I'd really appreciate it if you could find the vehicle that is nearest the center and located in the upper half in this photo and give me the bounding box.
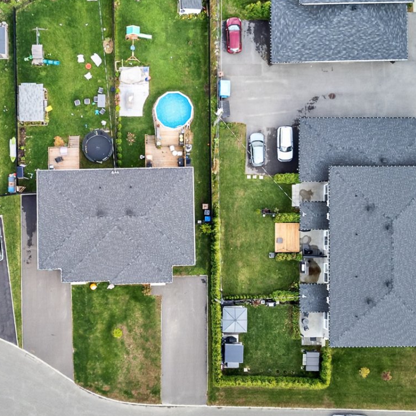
[249,131,267,167]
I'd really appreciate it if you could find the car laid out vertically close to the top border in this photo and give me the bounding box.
[224,17,242,54]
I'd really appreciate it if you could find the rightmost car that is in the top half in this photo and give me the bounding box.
[275,124,296,163]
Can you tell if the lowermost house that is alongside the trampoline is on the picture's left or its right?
left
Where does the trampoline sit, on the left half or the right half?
left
